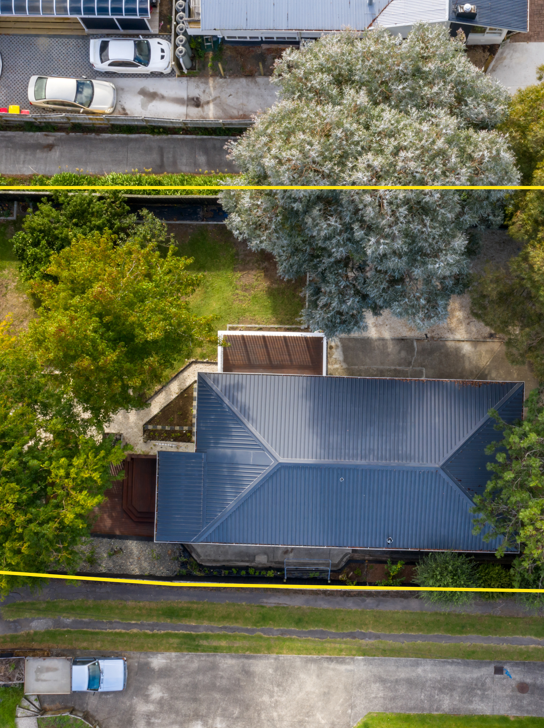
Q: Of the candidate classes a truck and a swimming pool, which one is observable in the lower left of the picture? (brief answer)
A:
truck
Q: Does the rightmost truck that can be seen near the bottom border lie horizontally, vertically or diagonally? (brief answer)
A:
horizontally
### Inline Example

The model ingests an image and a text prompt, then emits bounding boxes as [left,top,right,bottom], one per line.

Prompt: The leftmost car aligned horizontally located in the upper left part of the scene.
[26,73,118,116]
